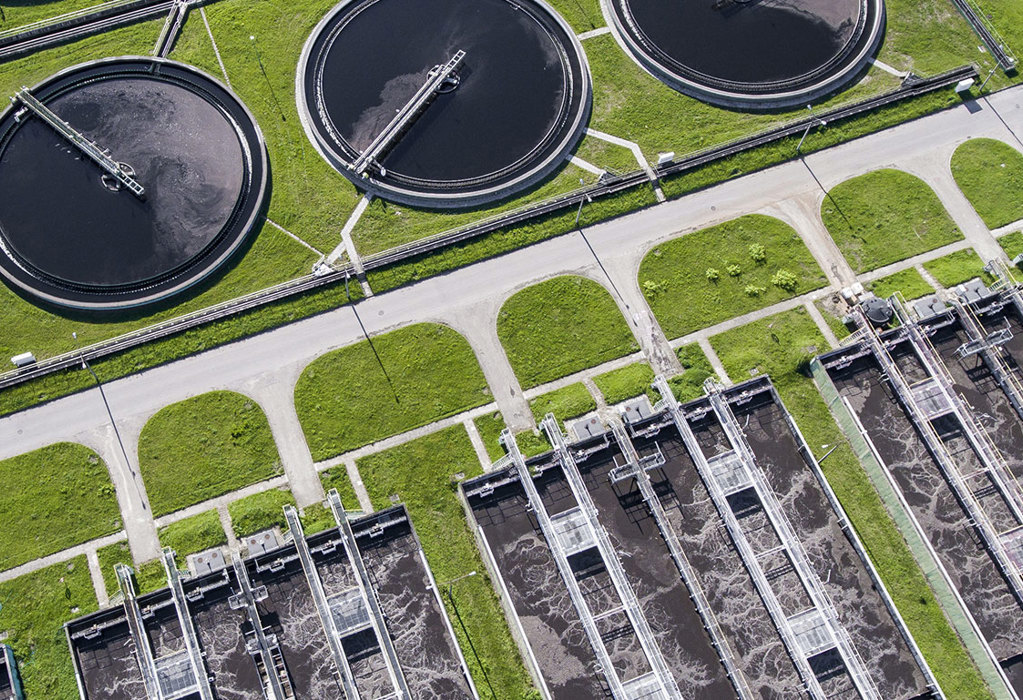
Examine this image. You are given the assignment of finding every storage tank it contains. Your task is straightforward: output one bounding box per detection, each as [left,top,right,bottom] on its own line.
[297,0,593,208]
[601,0,884,108]
[0,56,270,310]
[861,301,893,331]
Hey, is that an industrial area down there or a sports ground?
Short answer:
industrial area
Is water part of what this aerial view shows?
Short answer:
Yes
